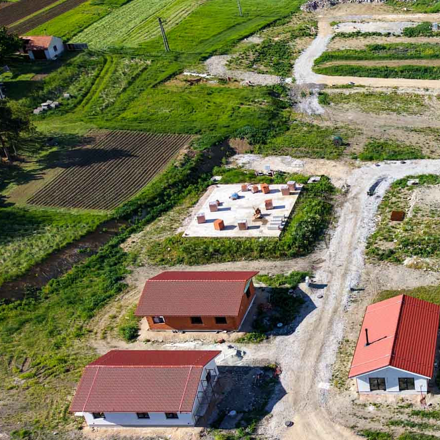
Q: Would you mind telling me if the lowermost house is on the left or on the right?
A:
left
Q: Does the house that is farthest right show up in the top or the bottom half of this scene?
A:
bottom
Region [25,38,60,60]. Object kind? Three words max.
house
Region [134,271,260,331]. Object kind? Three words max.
house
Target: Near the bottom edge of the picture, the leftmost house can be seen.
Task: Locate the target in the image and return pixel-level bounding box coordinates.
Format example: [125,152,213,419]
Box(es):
[68,350,223,427]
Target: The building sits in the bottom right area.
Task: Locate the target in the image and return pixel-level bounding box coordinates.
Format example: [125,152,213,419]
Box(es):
[347,293,440,394]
